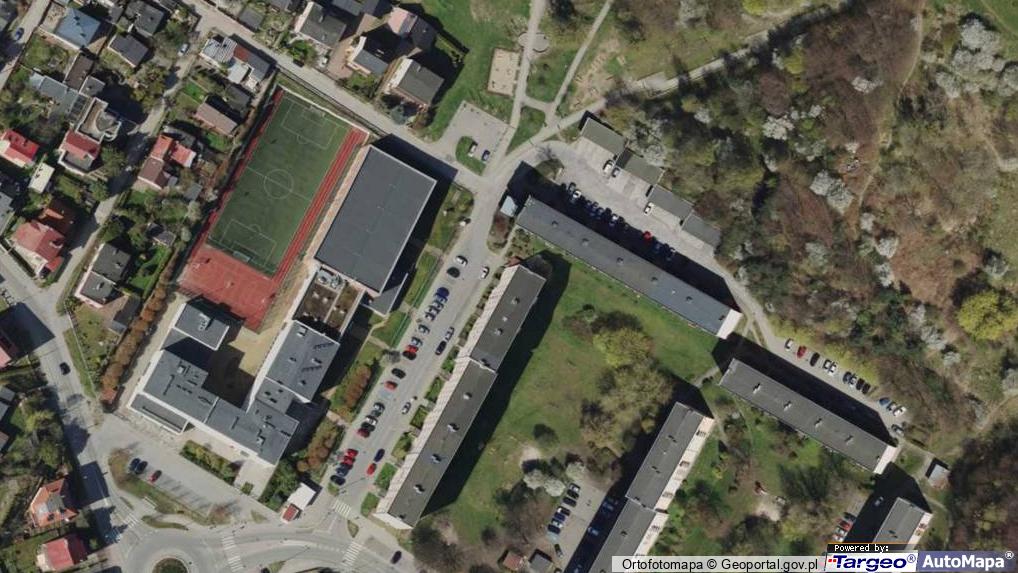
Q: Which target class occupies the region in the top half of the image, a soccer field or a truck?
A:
soccer field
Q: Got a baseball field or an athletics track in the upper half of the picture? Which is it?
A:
athletics track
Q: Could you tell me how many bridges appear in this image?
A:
zero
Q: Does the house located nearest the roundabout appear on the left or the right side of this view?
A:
left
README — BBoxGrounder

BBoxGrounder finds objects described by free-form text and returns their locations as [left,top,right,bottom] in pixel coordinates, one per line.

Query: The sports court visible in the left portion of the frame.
[177,244,274,334]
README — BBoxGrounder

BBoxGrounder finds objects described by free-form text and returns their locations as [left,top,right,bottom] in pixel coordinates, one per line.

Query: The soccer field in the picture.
[209,91,350,278]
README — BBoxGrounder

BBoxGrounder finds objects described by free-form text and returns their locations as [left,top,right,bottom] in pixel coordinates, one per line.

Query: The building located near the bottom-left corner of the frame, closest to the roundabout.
[41,534,90,572]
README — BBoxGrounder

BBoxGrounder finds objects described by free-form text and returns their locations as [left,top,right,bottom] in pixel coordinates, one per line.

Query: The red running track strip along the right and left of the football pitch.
[178,86,369,287]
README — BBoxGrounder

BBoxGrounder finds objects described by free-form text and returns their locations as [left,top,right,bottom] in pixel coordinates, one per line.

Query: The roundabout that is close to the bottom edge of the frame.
[123,530,216,573]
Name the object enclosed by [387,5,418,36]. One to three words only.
house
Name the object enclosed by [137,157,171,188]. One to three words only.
house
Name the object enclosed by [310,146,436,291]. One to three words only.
building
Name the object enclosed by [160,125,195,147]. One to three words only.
shed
